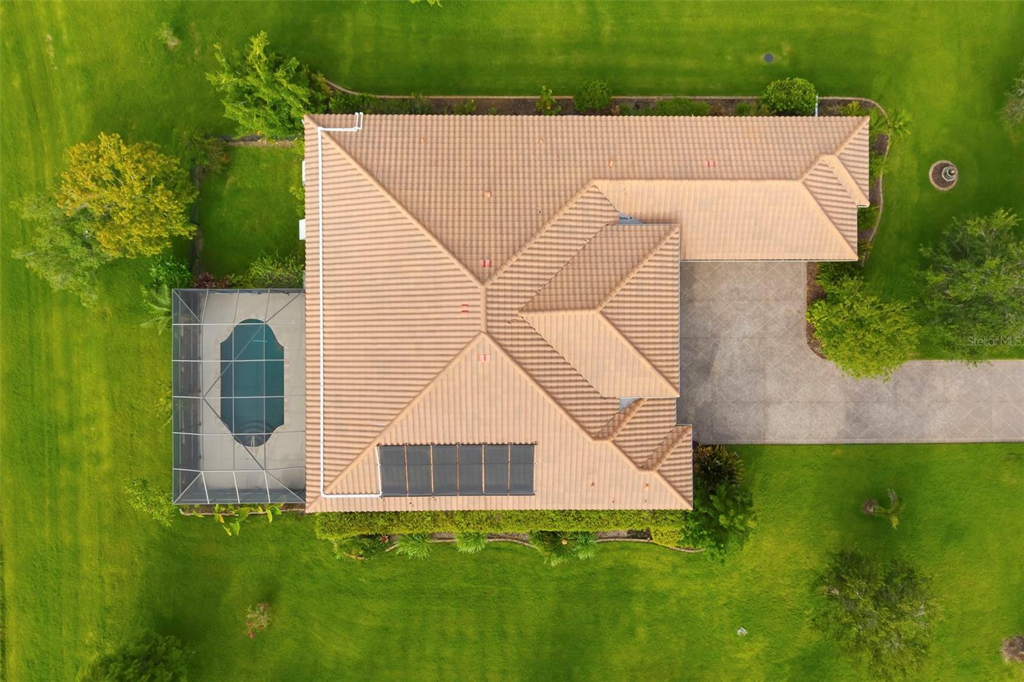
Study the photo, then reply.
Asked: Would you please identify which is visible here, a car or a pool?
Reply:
pool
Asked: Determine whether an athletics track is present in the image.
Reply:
No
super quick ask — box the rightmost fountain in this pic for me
[941,166,959,181]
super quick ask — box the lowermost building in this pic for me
[302,113,872,514]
